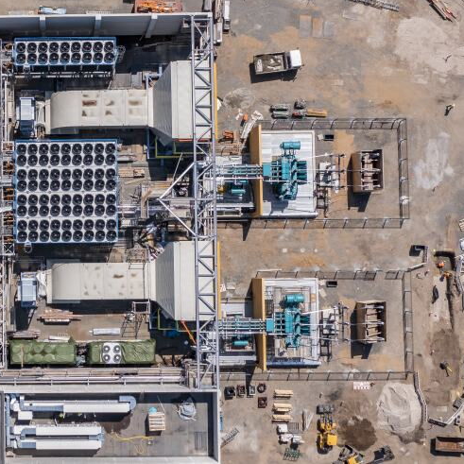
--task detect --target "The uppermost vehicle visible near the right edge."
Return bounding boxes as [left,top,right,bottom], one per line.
[435,259,450,275]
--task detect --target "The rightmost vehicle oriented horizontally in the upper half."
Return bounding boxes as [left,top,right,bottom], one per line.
[249,52,303,77]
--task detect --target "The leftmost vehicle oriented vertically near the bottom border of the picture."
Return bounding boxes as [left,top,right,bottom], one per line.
[316,404,340,453]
